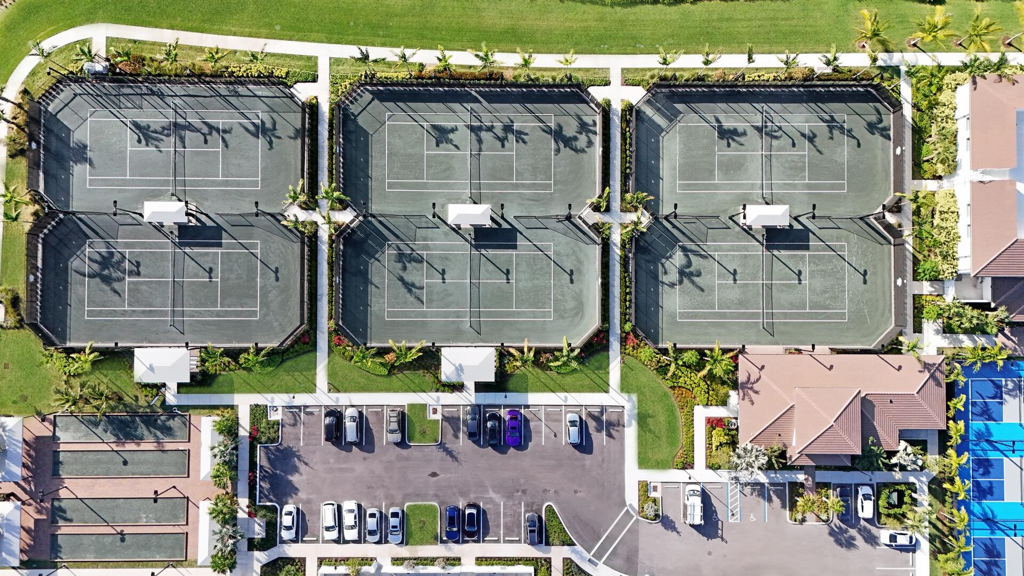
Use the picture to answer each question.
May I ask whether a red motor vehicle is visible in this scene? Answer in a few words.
No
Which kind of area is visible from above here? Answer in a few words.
sports ground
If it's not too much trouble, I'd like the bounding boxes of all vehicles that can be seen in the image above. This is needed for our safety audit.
[566,413,582,446]
[463,503,479,539]
[444,506,460,541]
[838,488,854,522]
[344,408,359,443]
[524,512,540,546]
[464,406,479,441]
[385,409,401,443]
[341,502,358,541]
[687,484,705,528]
[880,531,917,548]
[279,505,296,540]
[321,408,338,443]
[485,412,500,446]
[505,410,521,446]
[857,487,875,520]
[364,509,380,543]
[321,503,338,540]
[386,508,402,544]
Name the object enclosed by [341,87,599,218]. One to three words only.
tennis court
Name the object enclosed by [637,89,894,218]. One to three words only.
tennis court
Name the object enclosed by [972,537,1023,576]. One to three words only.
sports court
